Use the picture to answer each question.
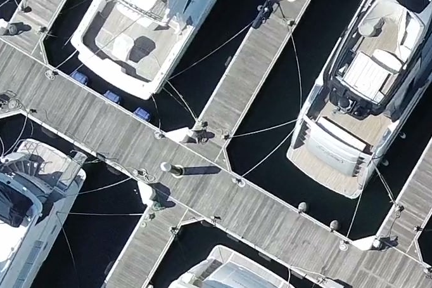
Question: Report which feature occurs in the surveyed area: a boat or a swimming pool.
boat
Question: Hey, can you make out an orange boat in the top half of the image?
No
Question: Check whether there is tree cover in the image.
No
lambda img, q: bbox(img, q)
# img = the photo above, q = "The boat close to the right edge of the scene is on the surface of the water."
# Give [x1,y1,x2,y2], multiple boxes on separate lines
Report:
[287,0,432,199]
